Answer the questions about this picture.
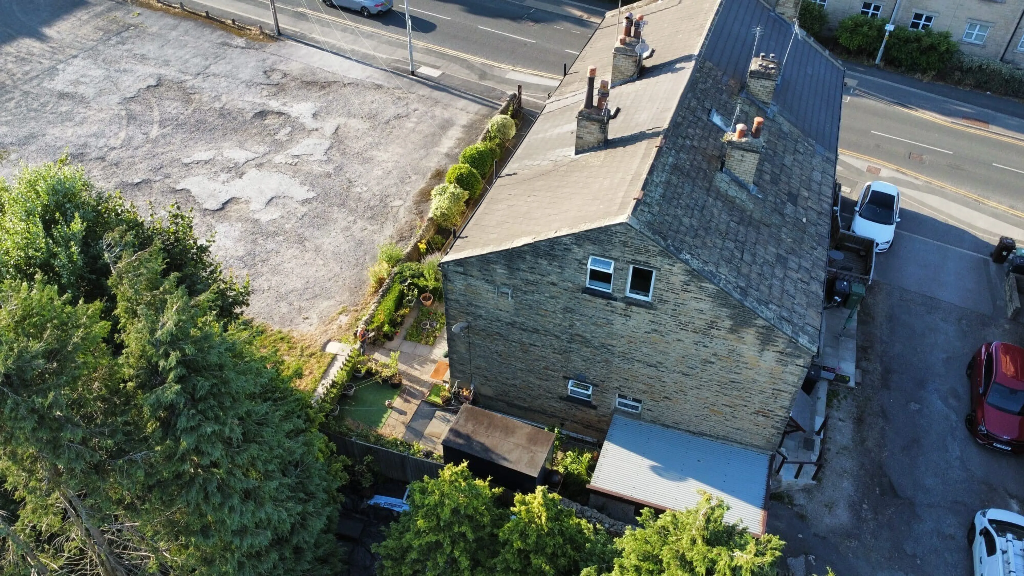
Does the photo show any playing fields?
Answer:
No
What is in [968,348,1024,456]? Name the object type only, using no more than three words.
car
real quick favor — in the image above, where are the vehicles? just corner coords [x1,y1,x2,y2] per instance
[968,507,1024,576]
[852,183,908,256]
[968,348,1024,456]
[322,0,397,18]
